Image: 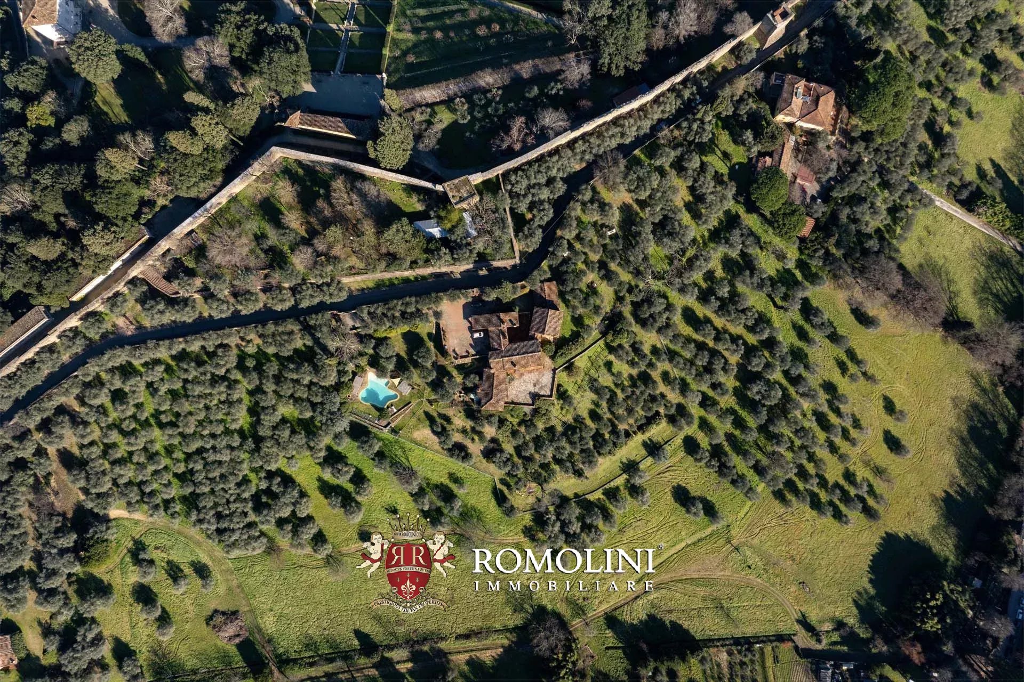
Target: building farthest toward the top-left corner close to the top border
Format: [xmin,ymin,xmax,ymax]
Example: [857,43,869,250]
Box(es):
[21,0,74,36]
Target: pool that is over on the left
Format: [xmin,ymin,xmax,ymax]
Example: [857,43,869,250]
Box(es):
[358,371,401,409]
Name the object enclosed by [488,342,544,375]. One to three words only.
house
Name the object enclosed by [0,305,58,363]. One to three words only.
house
